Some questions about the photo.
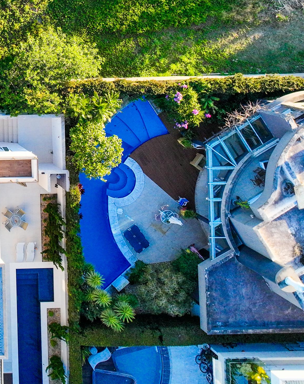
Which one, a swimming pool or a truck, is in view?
swimming pool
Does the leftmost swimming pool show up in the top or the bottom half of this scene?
bottom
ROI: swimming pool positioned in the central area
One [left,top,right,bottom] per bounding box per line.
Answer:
[79,97,170,289]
